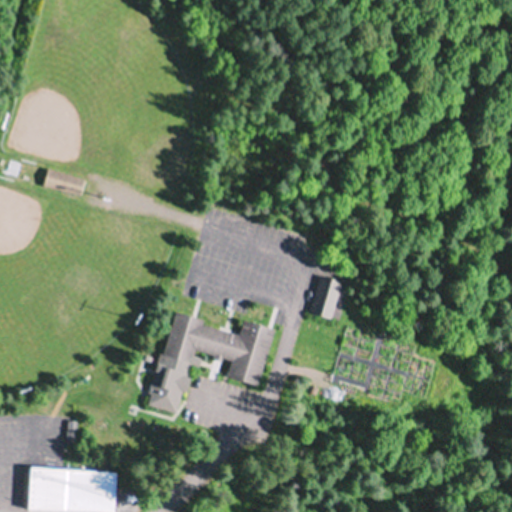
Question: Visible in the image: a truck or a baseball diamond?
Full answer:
Of the two, only a baseball diamond appears.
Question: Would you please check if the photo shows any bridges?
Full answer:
No, the picture doesn't show any bridge.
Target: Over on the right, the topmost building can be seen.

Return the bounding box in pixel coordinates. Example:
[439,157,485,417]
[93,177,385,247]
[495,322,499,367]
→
[314,276,342,320]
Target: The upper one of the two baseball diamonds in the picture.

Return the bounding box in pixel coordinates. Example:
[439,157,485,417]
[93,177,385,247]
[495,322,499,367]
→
[4,0,196,212]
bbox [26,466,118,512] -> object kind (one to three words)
building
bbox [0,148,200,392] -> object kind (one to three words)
baseball field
